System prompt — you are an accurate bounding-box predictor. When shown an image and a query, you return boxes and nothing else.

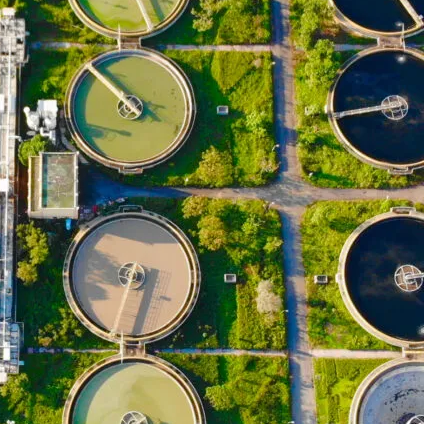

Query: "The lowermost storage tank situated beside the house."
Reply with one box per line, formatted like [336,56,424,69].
[63,201,200,345]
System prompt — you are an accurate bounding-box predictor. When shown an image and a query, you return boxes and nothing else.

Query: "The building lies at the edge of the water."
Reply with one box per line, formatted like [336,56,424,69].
[28,153,78,219]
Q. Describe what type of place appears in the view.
industrial area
